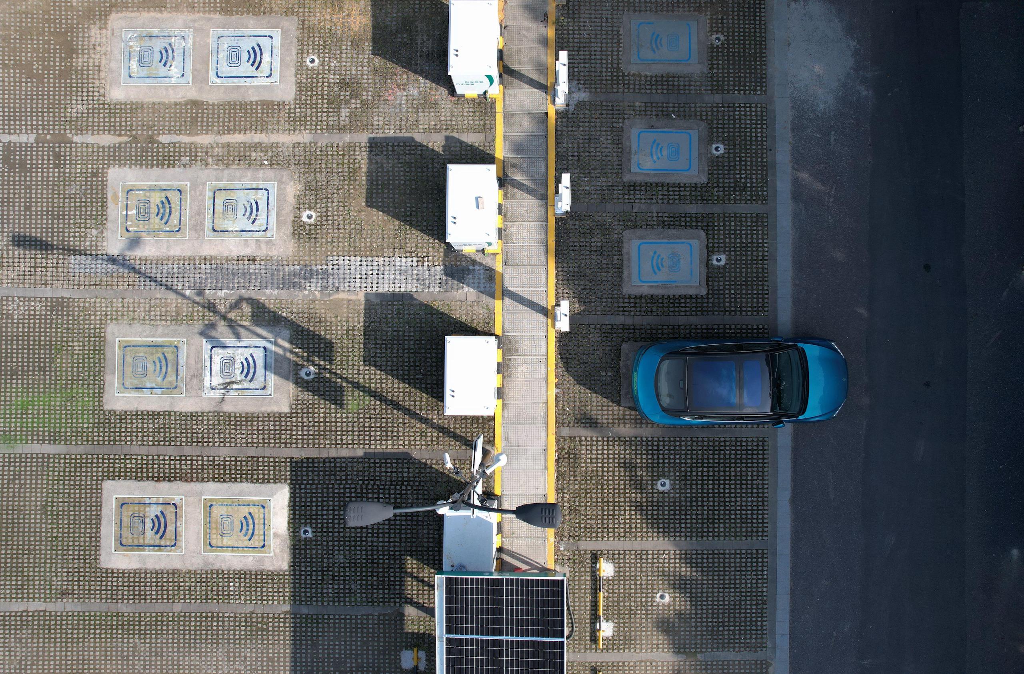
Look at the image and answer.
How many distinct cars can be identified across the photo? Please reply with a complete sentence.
In total, there is 1 car in the scene.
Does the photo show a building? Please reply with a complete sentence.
No, no building is visible in the view.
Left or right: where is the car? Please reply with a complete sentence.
The car is on the right side of the image.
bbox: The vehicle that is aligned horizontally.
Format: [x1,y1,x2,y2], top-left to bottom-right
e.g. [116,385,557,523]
[630,337,850,427]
